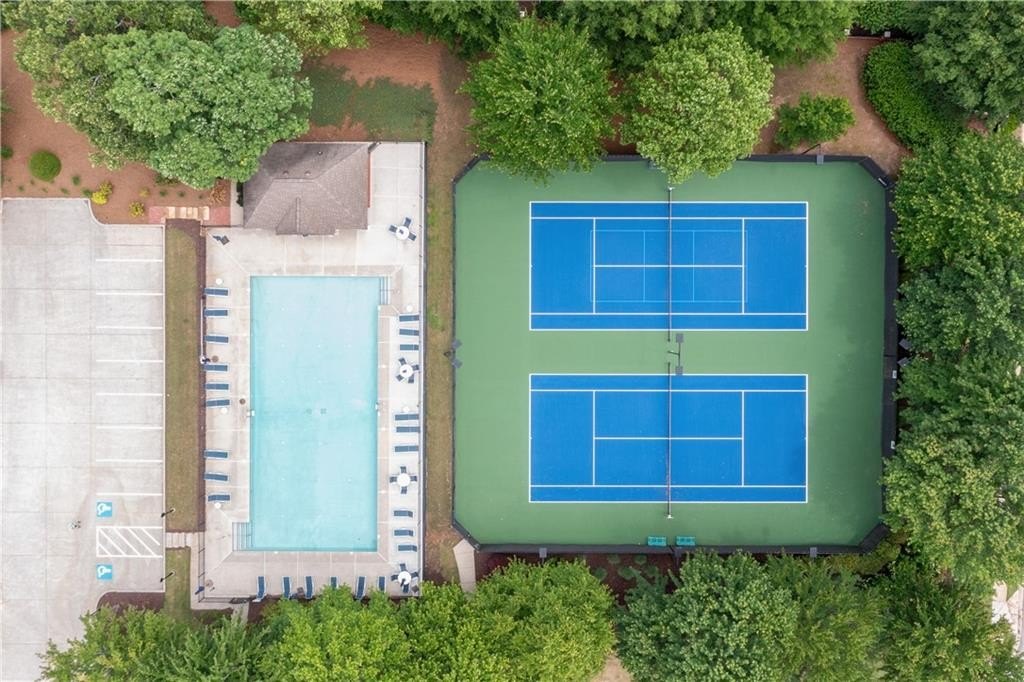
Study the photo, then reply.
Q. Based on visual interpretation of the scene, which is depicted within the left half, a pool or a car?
pool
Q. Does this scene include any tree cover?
Yes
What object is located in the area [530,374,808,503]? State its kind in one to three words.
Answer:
tennis court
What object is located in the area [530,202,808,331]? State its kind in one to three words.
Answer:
tennis court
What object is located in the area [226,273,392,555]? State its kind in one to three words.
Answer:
swimming pool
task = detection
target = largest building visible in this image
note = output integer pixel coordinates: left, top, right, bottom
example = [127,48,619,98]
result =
[242,142,373,238]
